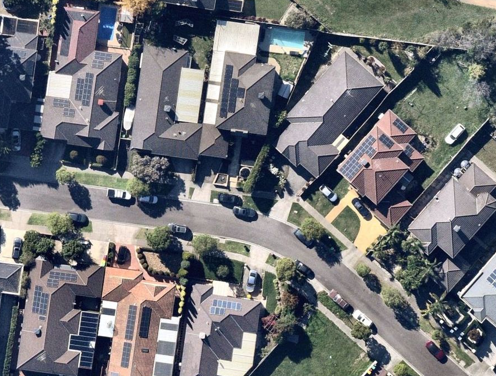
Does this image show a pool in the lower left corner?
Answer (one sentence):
No, no pool appears in the lower left corner.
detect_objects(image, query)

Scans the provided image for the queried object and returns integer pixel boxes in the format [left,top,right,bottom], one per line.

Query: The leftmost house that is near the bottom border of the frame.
[17,256,106,376]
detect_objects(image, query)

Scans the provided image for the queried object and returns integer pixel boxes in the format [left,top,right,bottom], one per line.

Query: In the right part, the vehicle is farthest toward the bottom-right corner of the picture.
[426,343,445,362]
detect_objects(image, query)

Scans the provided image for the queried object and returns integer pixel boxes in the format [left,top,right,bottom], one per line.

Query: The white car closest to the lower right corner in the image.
[353,309,374,328]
